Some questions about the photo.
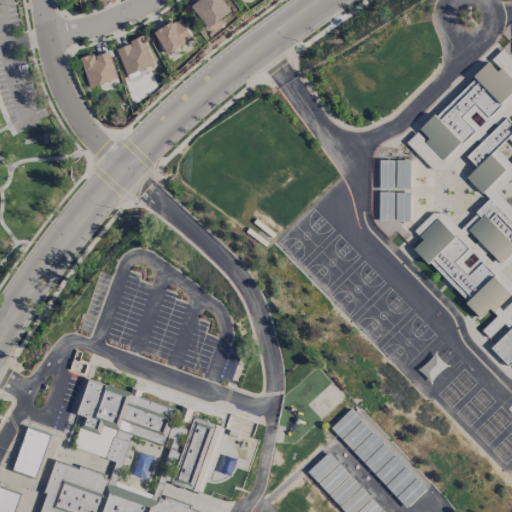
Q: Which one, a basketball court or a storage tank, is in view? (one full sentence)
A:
There is a basketball court in the scene.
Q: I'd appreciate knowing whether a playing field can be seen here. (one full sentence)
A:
Yes, there is a playing field in the image.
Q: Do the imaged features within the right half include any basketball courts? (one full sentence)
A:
Yes, a basketball court appears within the right half.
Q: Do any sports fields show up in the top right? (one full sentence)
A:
Yes, I can see a sports field in the top right.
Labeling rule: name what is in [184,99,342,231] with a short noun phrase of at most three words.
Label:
sports field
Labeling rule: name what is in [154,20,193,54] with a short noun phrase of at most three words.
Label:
house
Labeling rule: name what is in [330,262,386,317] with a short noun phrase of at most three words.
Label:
basketball court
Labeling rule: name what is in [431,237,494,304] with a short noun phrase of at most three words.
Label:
building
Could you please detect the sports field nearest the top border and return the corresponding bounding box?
[328,22,442,117]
